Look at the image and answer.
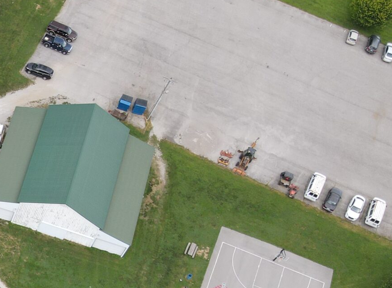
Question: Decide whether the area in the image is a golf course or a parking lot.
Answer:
parking lot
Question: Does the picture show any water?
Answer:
No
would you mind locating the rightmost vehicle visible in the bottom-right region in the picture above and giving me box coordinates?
[363,198,386,227]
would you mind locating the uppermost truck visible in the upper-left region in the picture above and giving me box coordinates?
[46,20,78,41]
